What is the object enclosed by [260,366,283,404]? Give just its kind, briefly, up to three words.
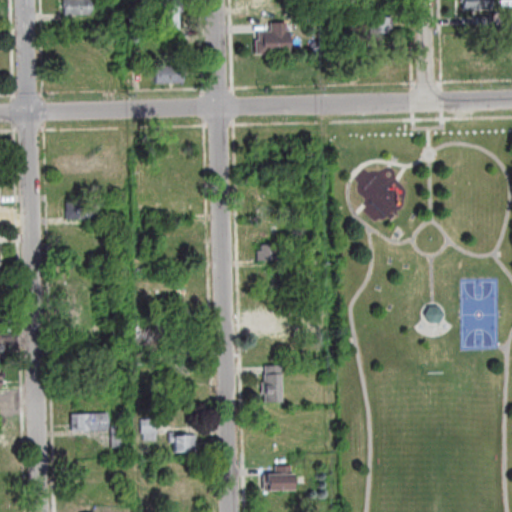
house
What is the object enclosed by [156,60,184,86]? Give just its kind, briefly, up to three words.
house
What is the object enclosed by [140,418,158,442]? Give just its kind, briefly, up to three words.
building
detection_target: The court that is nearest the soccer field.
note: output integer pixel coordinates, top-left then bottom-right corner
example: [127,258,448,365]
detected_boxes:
[460,278,498,351]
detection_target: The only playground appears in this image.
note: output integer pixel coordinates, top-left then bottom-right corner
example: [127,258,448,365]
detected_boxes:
[356,168,404,220]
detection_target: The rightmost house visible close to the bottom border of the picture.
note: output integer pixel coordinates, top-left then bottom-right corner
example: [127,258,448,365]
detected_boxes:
[261,465,298,492]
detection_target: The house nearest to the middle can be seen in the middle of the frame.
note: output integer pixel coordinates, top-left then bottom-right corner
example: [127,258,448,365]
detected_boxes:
[254,240,274,262]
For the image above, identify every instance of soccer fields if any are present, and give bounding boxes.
[379,373,496,512]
